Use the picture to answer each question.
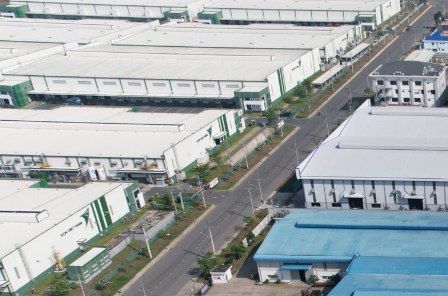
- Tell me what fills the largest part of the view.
buildings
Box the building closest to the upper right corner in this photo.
[423,34,448,52]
